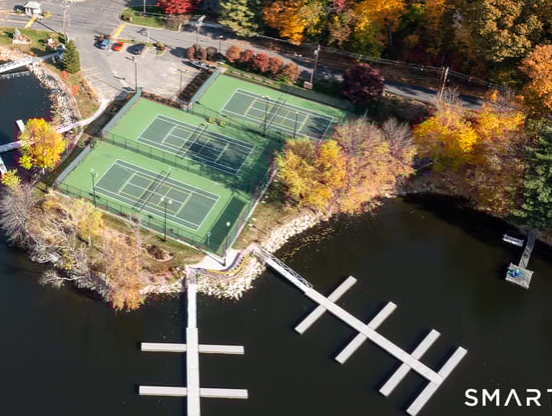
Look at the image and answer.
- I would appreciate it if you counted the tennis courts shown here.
3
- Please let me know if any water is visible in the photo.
Yes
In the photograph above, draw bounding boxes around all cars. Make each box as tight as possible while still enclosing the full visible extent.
[131,45,145,54]
[111,41,125,50]
[98,41,113,51]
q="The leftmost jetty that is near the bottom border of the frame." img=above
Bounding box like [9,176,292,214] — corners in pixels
[139,325,248,416]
